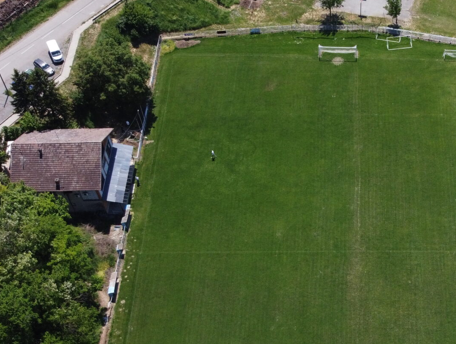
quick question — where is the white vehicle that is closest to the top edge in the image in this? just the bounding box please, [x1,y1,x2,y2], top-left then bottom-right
[46,36,64,61]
